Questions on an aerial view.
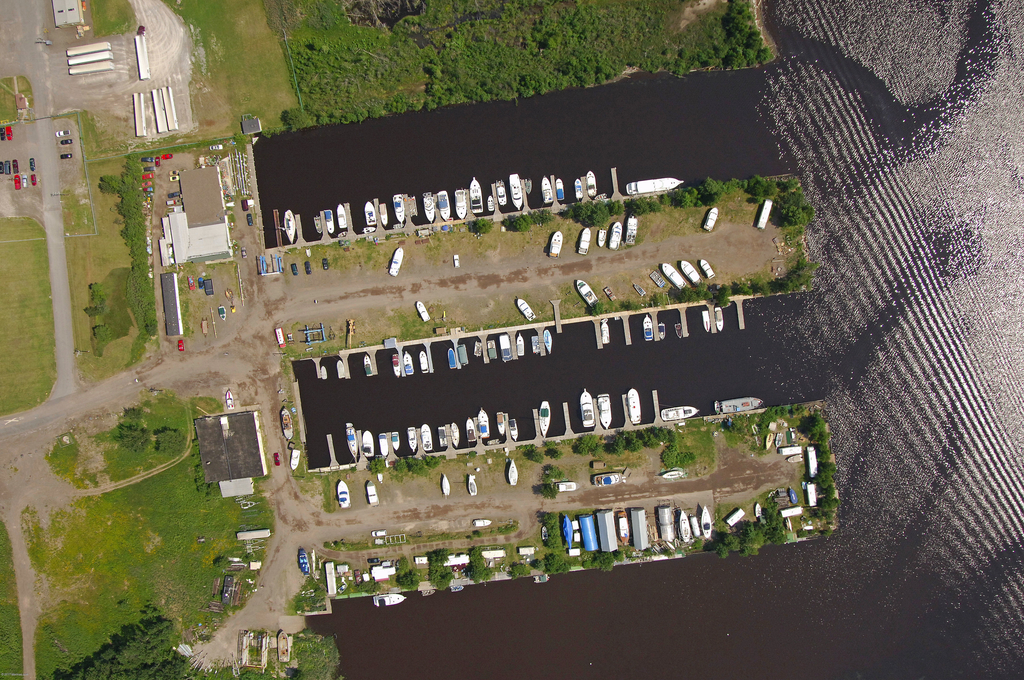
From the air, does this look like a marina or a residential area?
marina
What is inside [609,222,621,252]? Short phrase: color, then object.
white boat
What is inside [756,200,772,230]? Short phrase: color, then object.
white vehicle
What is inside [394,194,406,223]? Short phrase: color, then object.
white boat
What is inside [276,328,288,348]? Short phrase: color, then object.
white vehicle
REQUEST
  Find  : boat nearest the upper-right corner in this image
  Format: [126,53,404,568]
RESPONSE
[704,208,719,232]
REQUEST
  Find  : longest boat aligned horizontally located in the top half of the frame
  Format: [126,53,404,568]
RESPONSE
[626,178,680,195]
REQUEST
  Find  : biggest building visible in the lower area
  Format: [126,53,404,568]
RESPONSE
[195,411,268,483]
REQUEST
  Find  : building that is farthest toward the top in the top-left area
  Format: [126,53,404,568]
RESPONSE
[55,0,88,30]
